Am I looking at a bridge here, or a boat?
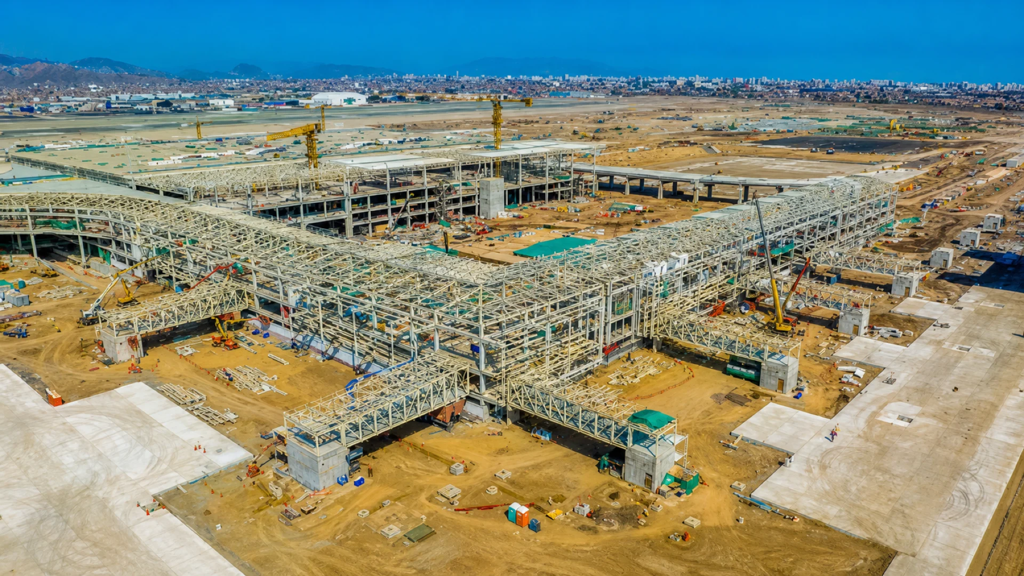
bridge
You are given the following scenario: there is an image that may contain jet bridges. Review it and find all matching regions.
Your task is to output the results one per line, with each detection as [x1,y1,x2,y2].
[742,266,874,313]
[94,278,263,338]
[504,359,683,459]
[280,353,475,457]
[809,241,924,277]
[651,301,808,366]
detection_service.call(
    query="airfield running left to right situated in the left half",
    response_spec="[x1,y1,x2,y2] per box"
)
[0,98,778,144]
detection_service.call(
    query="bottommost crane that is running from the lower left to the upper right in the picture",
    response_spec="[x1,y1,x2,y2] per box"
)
[76,250,167,327]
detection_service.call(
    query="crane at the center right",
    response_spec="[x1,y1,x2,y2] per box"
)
[750,190,794,333]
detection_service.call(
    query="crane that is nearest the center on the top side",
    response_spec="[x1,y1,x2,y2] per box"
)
[407,91,532,175]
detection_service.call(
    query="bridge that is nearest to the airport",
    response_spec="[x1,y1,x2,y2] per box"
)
[550,163,804,202]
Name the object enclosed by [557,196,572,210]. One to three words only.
work vehicle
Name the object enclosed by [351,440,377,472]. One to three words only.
truck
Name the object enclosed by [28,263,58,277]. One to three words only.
work vehicle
